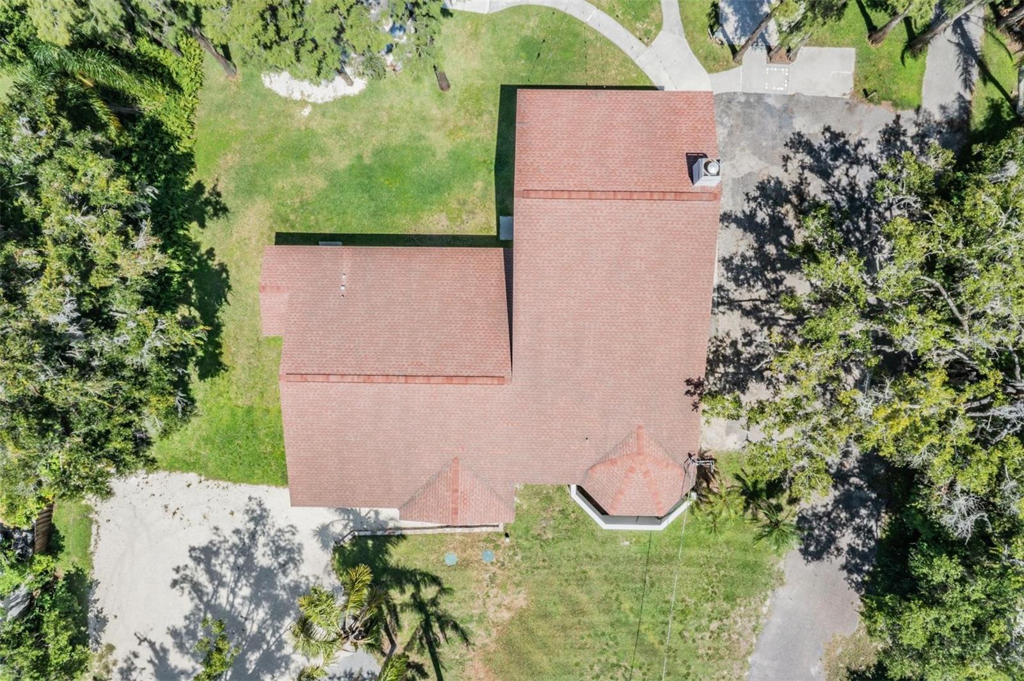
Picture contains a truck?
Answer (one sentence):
No, I can't see a single truck in this photo.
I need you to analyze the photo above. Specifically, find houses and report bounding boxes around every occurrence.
[260,89,723,530]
